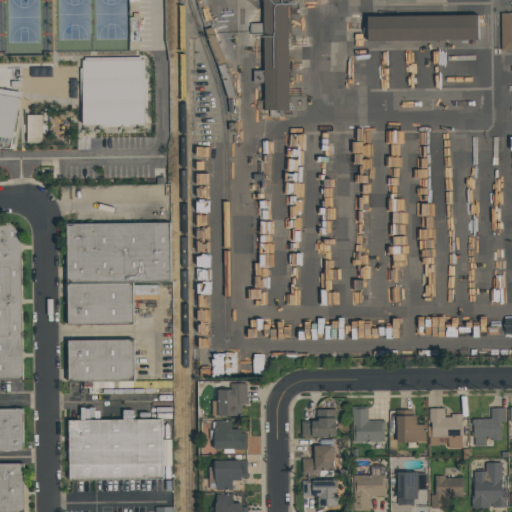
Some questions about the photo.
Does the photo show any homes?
Yes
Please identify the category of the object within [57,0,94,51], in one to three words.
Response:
basketball court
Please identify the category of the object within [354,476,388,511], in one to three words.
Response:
house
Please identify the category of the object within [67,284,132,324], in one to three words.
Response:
building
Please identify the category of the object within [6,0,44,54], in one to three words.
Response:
basketball court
